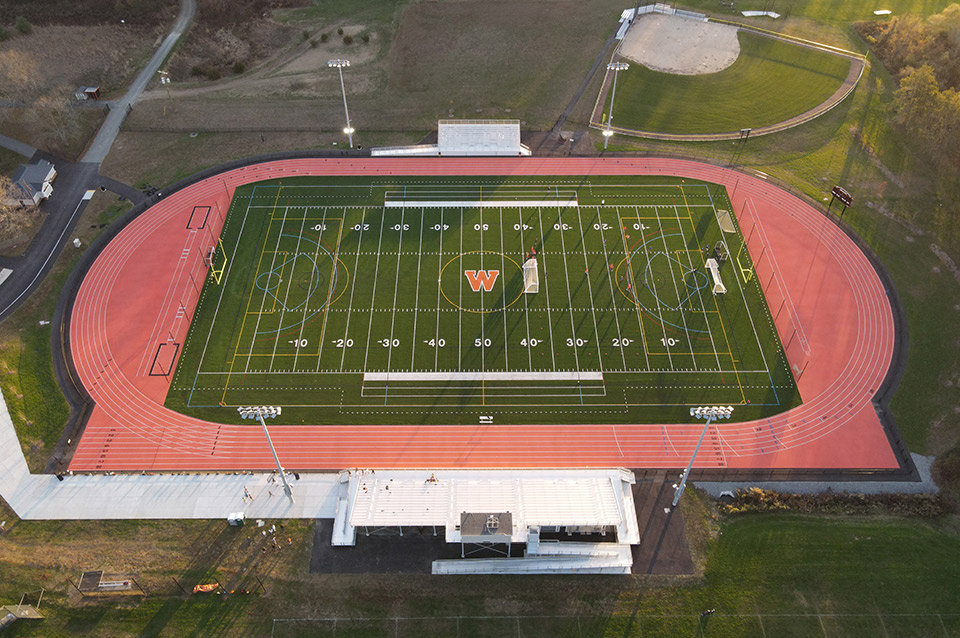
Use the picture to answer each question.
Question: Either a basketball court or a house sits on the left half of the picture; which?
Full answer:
Visible on the left half of the picture is a house.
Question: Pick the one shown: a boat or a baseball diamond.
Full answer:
Of the two, only a baseball diamond appears.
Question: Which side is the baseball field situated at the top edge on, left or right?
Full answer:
The baseball field situated at the top edge sits on the right side.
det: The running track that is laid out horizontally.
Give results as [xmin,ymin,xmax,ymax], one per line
[68,156,899,471]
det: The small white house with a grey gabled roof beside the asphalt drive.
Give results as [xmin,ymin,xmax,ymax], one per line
[3,156,64,212]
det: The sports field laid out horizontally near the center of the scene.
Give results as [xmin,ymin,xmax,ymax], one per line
[163,174,802,425]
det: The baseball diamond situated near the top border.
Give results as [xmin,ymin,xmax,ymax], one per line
[591,14,865,141]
